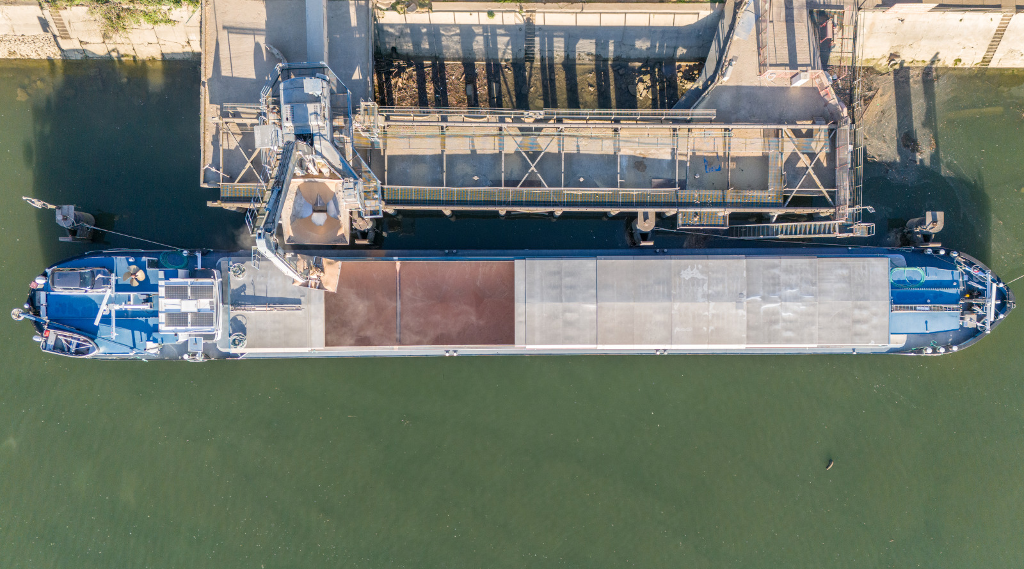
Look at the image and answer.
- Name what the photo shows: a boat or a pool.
boat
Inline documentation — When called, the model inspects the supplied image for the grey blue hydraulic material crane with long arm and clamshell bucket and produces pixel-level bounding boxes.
[241,58,377,293]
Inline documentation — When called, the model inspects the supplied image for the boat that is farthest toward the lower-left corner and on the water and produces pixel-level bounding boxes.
[31,329,100,358]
